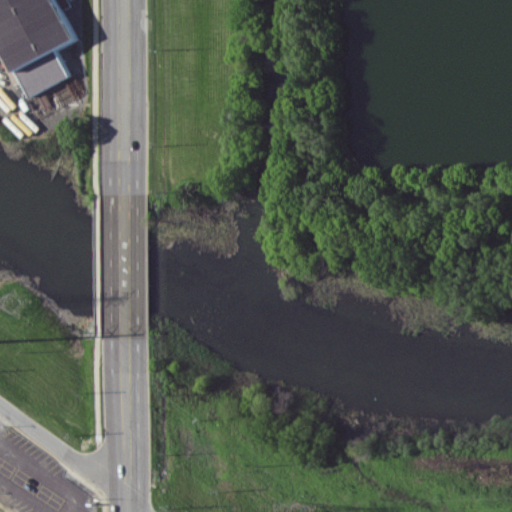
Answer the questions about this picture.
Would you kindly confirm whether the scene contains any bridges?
Yes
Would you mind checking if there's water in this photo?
Yes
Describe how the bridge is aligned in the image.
from top to bottom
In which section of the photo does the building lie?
top left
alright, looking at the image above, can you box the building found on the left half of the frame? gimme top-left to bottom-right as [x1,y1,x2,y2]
[0,0,76,97]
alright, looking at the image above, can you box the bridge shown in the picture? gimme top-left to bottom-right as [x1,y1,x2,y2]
[92,193,148,338]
